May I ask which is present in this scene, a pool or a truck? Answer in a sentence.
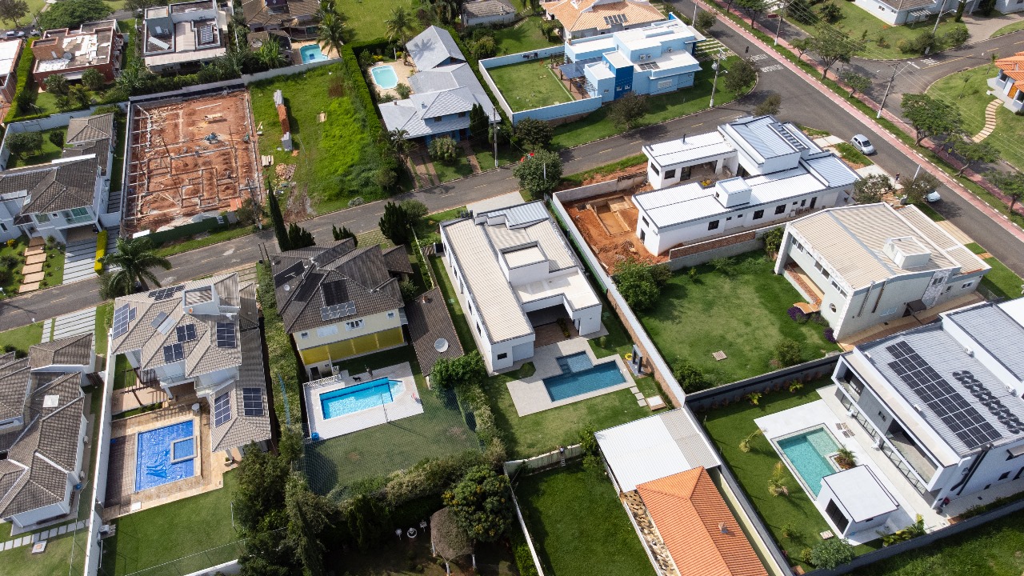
The image shows a pool.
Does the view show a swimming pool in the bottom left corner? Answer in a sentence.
Yes, you'll find a swimming pool in the bottom left corner.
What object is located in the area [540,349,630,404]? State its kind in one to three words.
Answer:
swimming pool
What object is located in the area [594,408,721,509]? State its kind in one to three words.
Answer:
shed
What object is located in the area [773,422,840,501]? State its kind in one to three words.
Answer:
swimming pool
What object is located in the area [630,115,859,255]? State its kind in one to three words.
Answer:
house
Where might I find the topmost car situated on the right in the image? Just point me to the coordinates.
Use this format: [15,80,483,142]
[855,135,876,151]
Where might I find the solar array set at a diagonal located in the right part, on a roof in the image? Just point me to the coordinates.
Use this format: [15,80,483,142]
[885,341,1001,447]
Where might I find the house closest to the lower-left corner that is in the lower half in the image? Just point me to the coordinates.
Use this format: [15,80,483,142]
[0,332,104,531]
